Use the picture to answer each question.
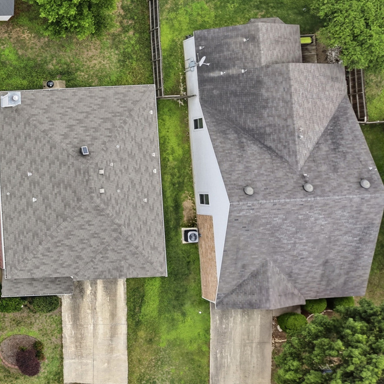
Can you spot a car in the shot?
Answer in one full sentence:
No, there appears to be no car in this shot.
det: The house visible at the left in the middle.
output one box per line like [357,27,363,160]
[0,84,167,298]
